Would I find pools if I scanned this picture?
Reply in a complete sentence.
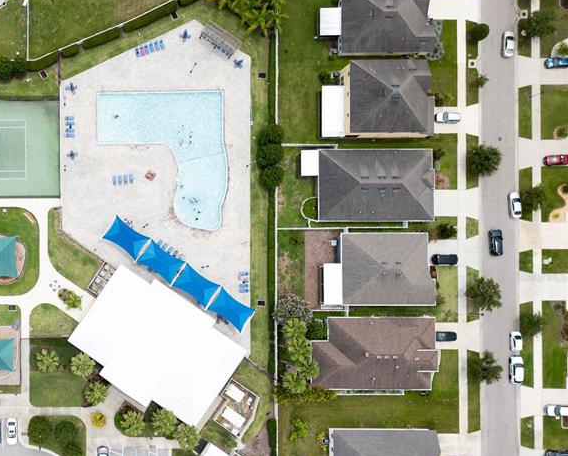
Yes, the photo shows a pool.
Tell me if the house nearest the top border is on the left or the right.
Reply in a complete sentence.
You can find the house nearest the top border on the right side of the picture.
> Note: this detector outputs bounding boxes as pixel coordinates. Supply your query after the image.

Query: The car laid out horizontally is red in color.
[543,154,568,166]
